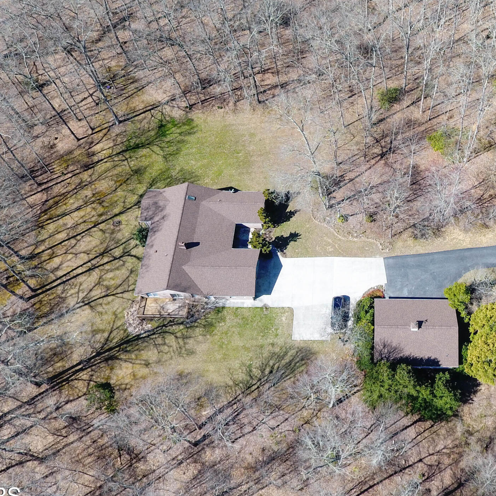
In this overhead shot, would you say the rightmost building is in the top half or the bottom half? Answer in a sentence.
It is in the bottom half that the rightmost building appears.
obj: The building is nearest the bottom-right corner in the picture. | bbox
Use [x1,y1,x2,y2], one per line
[374,298,459,366]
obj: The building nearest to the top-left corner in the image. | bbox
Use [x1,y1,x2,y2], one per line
[134,183,266,301]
